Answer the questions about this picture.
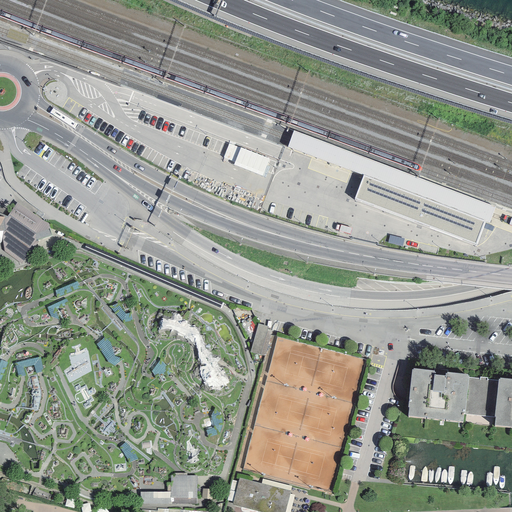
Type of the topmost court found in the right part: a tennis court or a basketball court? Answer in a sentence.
The topmost court found in the right part appears to be a tennis court.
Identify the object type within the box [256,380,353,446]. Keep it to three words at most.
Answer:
tennis court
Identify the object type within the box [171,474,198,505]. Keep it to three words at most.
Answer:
building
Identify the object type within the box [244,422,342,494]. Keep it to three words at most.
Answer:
tennis court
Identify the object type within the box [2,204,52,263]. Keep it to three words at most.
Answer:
house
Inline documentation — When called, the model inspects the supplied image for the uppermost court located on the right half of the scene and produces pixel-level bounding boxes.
[266,337,364,403]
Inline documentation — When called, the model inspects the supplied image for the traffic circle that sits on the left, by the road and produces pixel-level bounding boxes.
[0,54,40,130]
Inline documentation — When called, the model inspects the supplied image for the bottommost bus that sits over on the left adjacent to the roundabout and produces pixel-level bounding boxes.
[50,108,78,131]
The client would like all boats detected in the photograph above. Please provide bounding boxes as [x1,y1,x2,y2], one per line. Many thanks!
[500,474,505,487]
[435,467,440,482]
[486,471,492,485]
[422,466,428,482]
[448,464,454,483]
[442,469,447,483]
[461,469,466,484]
[410,464,415,480]
[494,464,500,484]
[467,472,473,484]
